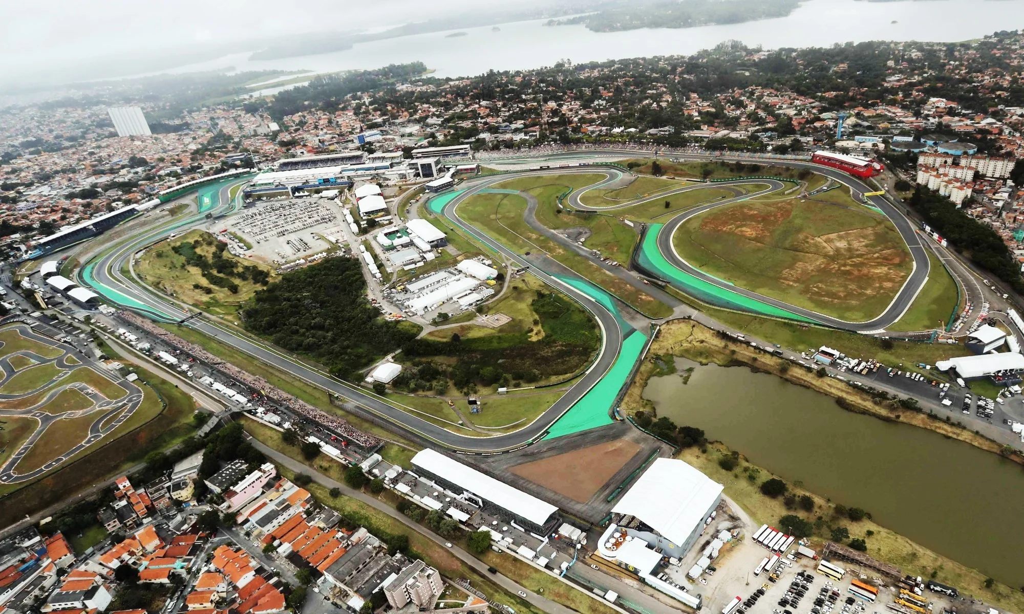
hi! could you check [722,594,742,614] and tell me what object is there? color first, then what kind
white bus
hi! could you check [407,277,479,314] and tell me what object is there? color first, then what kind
white tent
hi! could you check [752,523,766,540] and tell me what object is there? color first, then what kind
white vehicle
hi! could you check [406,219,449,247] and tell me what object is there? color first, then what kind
white tent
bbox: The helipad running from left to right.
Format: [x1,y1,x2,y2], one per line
[474,308,511,327]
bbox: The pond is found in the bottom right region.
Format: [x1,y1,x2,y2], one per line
[641,356,1024,595]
